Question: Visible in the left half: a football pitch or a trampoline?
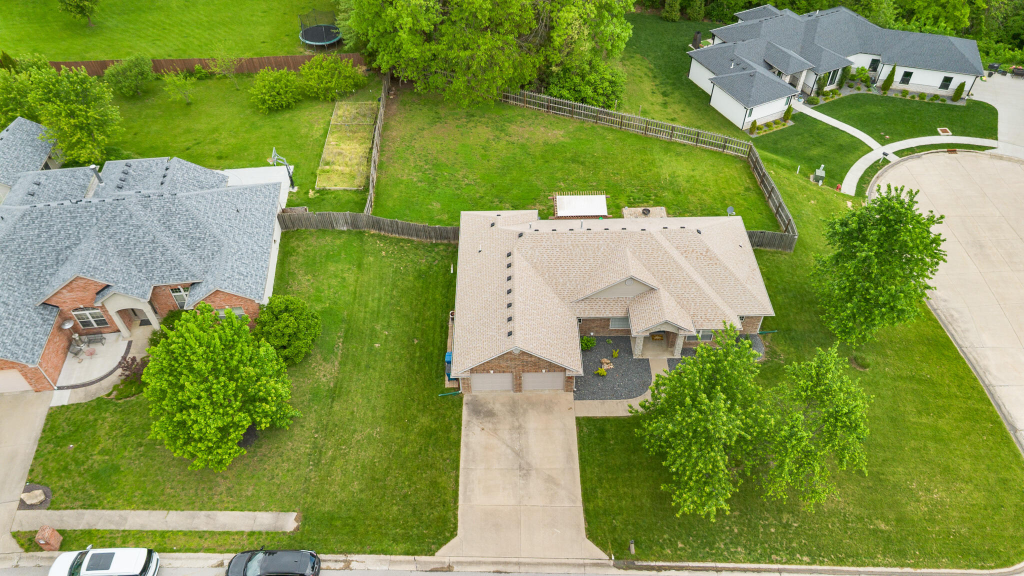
trampoline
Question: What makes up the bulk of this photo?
grass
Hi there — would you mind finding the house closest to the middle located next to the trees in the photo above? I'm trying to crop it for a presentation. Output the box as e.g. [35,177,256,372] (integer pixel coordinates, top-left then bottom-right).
[448,209,777,397]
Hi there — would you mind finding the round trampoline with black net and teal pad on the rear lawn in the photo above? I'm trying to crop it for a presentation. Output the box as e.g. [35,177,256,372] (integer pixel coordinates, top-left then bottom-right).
[293,12,342,53]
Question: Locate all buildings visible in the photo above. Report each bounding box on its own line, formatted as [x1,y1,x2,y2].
[686,4,986,130]
[448,209,777,397]
[0,117,284,396]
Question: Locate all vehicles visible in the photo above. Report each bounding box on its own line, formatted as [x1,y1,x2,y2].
[52,545,161,576]
[226,546,322,576]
